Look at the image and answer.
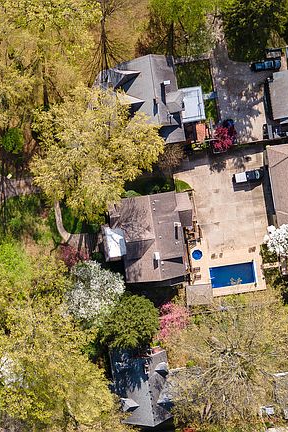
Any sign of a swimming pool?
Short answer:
Yes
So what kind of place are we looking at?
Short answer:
residential area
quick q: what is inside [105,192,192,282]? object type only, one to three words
house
